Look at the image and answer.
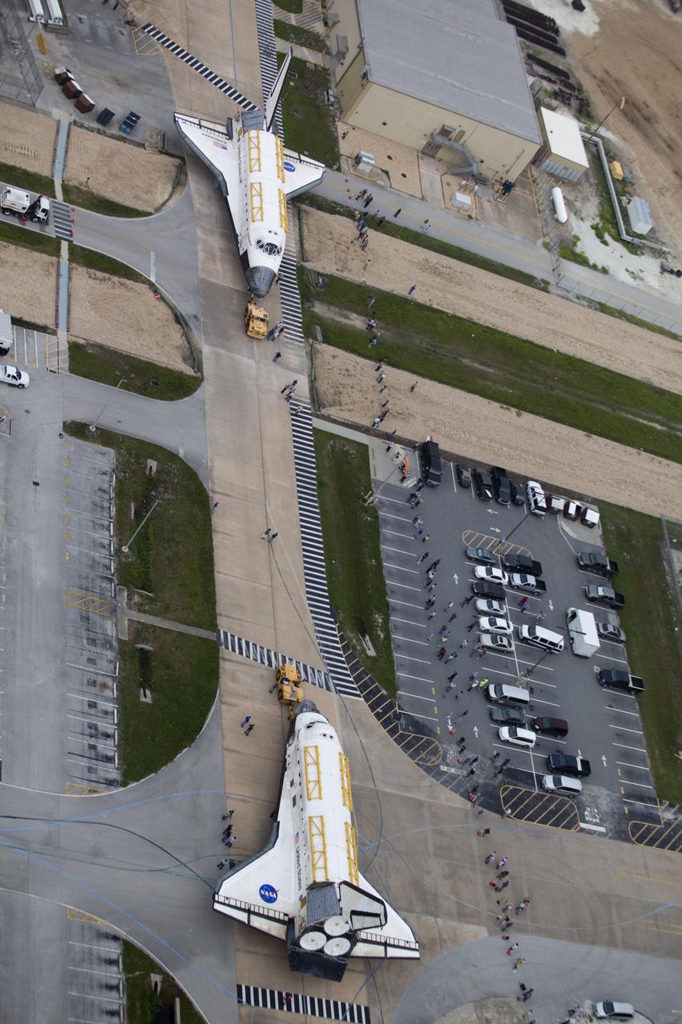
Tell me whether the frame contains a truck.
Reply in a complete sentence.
Yes, this view includes a truck.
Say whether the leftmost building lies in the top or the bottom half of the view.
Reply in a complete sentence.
You can find the leftmost building in the top half.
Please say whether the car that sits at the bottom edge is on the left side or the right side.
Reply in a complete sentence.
The car that sits at the bottom edge is on the right side of the image.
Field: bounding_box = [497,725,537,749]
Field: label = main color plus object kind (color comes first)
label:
white car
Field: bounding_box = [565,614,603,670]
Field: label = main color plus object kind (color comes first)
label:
white truck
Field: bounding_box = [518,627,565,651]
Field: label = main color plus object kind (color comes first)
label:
white vehicle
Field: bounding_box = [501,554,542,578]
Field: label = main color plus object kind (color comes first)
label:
black truck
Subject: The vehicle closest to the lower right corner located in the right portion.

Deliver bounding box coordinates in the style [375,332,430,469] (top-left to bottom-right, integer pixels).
[593,998,635,1023]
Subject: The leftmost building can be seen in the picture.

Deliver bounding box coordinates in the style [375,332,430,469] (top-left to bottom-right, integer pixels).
[318,0,546,182]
